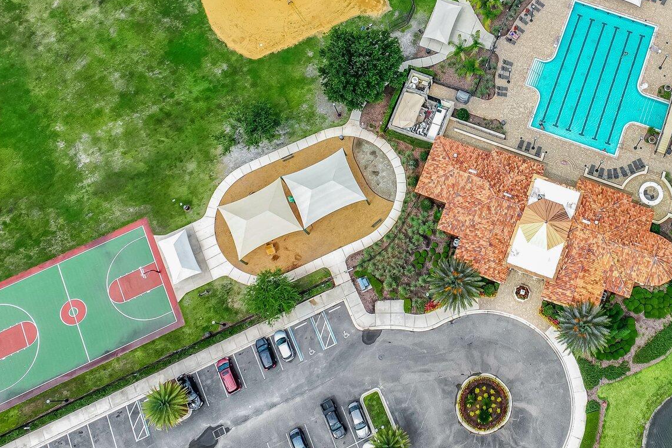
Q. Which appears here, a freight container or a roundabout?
roundabout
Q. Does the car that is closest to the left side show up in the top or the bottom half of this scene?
bottom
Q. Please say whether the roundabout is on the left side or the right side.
right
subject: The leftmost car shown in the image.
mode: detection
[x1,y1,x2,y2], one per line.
[178,374,204,412]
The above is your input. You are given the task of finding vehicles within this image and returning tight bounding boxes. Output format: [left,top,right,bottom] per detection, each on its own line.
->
[273,327,295,365]
[178,374,204,412]
[319,396,346,442]
[347,401,370,440]
[288,426,310,448]
[217,356,242,395]
[255,335,278,373]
